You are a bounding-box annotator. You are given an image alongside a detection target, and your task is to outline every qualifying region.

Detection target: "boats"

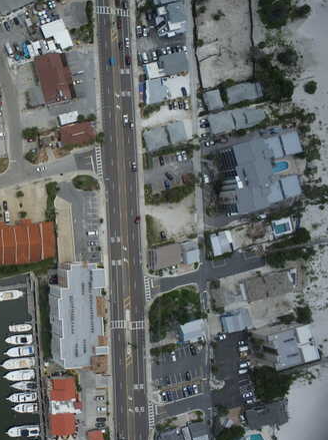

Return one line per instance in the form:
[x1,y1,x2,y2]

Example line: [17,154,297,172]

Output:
[0,290,22,300]
[4,372,36,382]
[12,405,39,413]
[6,393,38,403]
[4,335,33,345]
[8,325,32,331]
[6,347,34,356]
[11,382,37,393]
[6,426,40,437]
[1,359,35,370]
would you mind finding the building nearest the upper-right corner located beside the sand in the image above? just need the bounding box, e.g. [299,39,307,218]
[225,82,263,104]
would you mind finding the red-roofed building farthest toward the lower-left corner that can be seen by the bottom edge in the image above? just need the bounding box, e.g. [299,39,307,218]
[50,412,76,435]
